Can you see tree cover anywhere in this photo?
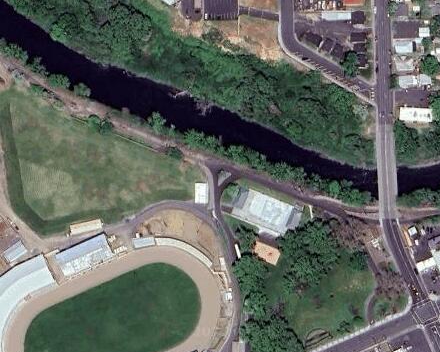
Yes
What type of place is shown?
sports ground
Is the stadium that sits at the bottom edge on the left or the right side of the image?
left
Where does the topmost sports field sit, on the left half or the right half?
left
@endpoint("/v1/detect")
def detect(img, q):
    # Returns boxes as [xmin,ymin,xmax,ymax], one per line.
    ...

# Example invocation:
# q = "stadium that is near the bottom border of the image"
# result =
[0,237,220,352]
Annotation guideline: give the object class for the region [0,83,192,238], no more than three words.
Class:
sports field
